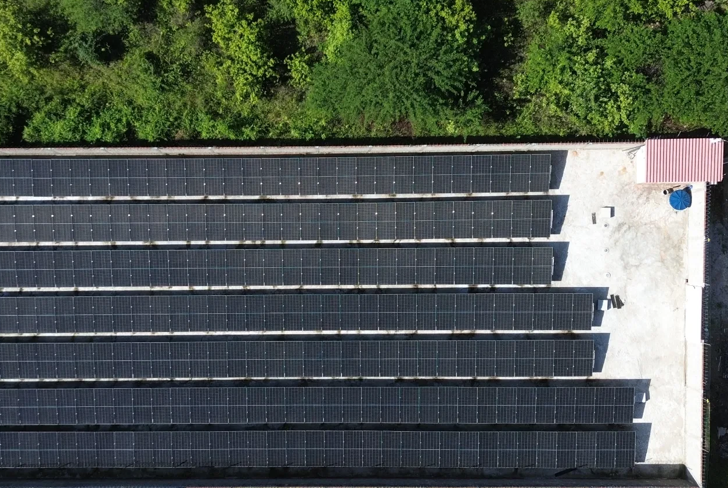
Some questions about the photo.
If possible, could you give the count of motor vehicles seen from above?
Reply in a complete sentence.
The count of motor vehicles is 0.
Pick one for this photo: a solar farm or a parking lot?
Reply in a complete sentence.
The area seen from above is a solar farm.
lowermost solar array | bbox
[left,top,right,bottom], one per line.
[0,432,636,469]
